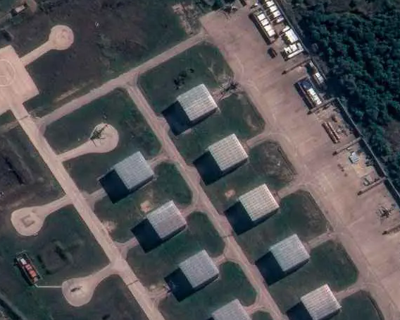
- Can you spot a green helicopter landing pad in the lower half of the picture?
No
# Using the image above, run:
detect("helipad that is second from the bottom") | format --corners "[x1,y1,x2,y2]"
[12,194,74,232]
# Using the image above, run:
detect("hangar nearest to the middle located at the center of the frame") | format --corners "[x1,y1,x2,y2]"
[209,134,248,174]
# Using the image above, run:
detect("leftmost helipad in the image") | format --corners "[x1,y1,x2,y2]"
[0,45,37,114]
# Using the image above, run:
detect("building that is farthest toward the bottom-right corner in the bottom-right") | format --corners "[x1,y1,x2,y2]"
[302,285,340,320]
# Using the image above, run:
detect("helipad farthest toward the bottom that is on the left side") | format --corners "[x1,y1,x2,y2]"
[64,263,119,303]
